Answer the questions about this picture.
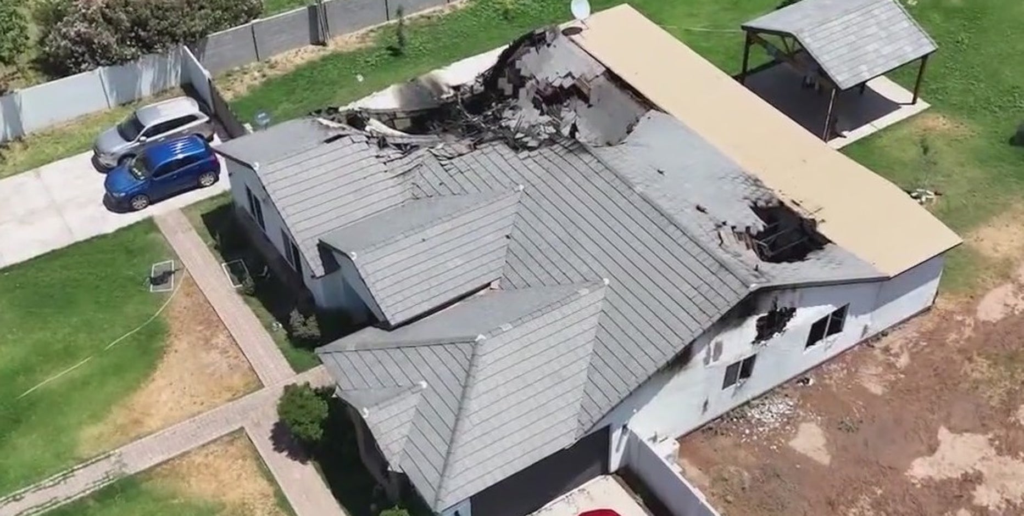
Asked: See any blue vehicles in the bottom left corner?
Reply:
No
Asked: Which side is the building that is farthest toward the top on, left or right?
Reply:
right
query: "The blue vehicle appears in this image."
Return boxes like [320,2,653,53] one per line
[100,132,222,209]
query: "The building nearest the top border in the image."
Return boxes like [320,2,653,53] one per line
[730,0,943,141]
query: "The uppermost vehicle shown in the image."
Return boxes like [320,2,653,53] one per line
[87,89,217,170]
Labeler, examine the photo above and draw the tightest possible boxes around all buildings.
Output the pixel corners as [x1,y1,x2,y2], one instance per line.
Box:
[215,7,967,516]
[730,0,943,141]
